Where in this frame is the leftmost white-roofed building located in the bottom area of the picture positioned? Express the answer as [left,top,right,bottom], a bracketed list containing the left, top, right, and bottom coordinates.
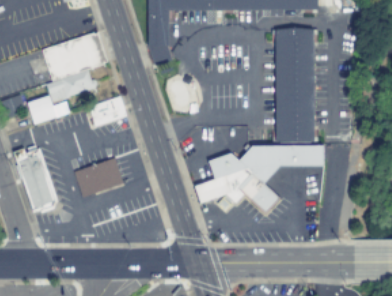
[14,147,58,212]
